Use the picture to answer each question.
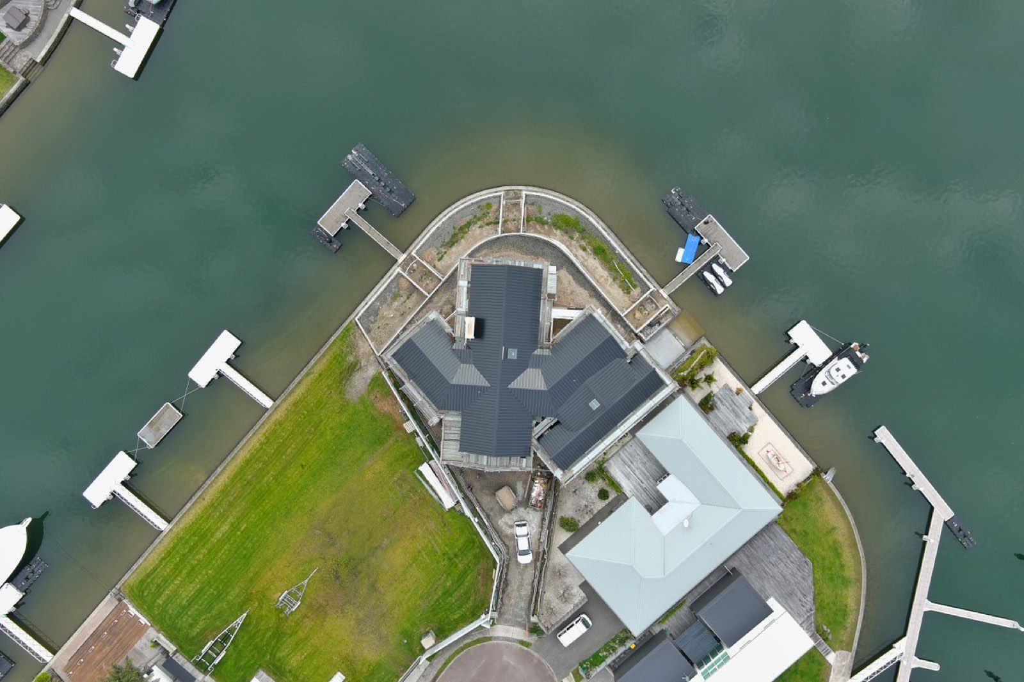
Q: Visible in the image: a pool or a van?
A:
van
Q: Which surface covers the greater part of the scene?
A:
water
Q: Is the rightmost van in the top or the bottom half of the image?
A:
bottom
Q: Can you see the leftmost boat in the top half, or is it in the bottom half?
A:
bottom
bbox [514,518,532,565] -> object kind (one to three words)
vehicle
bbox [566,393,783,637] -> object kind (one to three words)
house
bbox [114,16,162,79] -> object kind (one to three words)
pier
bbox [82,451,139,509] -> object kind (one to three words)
pier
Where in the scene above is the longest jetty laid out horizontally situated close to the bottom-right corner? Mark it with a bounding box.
[923,599,1017,629]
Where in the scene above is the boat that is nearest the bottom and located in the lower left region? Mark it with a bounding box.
[0,520,40,587]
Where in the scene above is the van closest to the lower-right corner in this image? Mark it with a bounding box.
[557,610,592,646]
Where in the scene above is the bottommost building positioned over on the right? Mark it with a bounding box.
[599,567,814,682]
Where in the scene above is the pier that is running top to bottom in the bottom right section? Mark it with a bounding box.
[892,507,945,682]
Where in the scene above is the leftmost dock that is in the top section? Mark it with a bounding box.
[0,204,23,245]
